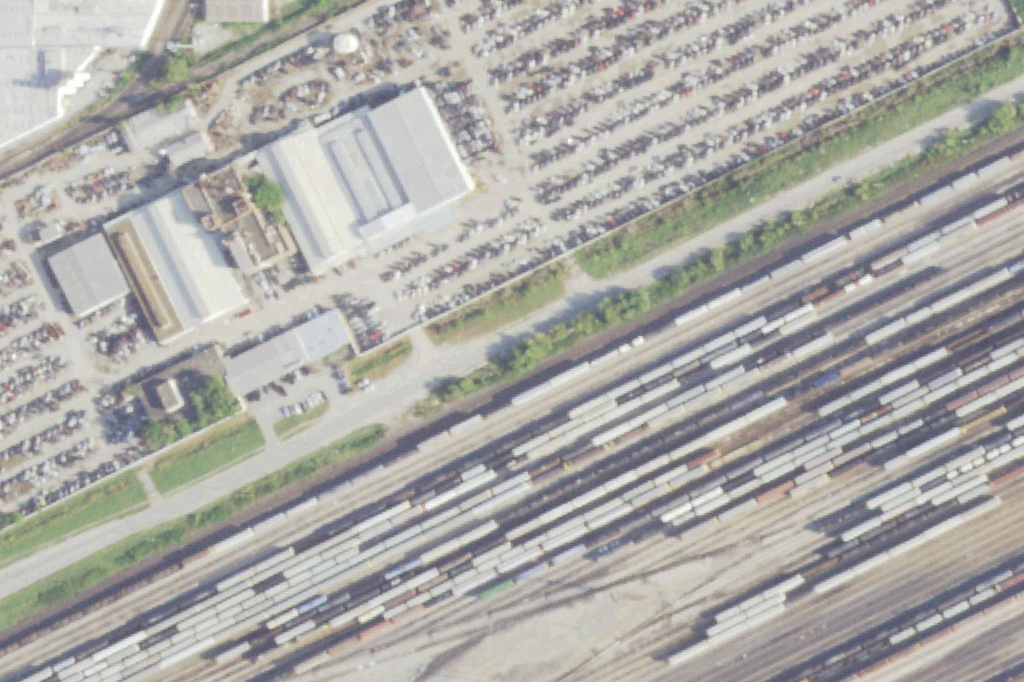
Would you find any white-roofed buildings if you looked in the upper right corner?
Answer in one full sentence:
No, no white-roofed building appears in the upper right corner.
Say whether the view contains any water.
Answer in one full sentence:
No, no water is visible.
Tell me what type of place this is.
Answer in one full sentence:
It's a rail yard.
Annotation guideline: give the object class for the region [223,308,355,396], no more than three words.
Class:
building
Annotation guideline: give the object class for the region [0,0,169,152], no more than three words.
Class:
building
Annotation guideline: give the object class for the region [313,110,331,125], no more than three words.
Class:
vehicle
